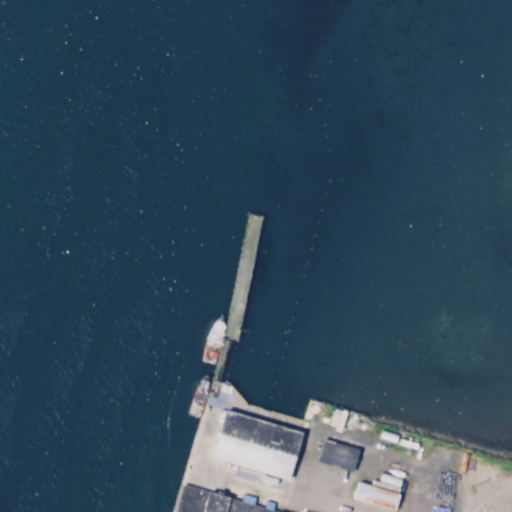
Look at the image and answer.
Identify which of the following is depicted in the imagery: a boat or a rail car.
boat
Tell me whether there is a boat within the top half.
No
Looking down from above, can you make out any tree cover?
No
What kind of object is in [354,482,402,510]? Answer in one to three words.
shed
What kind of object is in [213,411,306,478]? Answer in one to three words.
building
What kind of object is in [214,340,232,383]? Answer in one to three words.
pier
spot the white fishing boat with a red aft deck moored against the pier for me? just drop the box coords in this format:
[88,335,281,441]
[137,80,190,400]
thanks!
[202,316,224,366]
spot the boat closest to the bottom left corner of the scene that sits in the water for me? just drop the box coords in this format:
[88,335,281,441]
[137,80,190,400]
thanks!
[188,376,210,418]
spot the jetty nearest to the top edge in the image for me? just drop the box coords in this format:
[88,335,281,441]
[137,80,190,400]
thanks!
[225,213,264,342]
